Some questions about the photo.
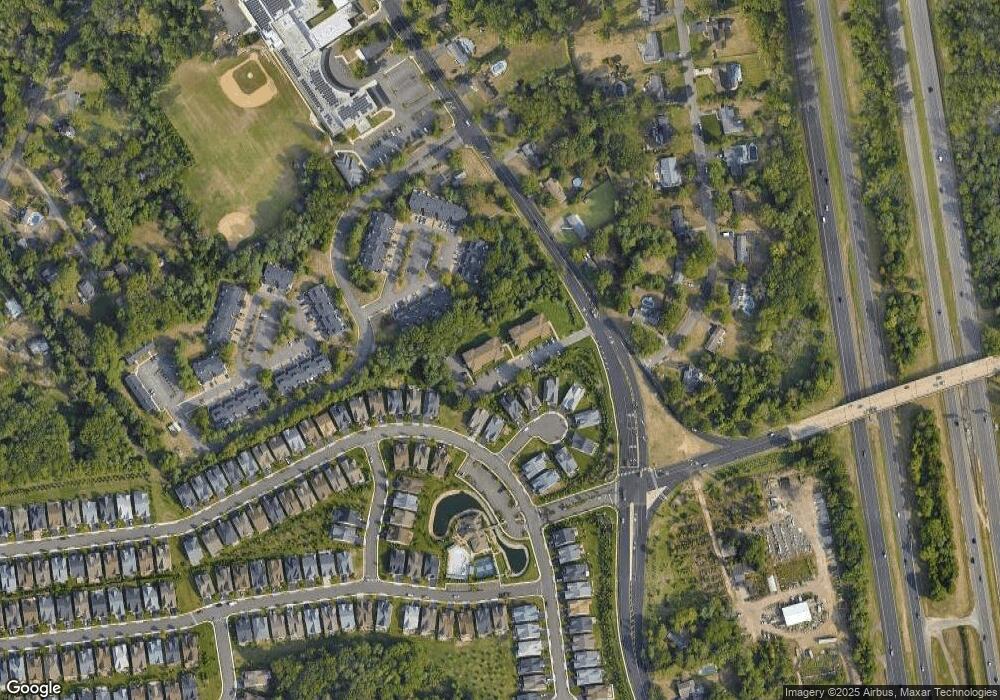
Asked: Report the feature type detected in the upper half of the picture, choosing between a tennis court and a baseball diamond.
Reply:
baseball diamond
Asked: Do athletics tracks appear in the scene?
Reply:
No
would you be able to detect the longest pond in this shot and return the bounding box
[434,492,528,574]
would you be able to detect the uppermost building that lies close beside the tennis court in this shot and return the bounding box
[454,509,493,556]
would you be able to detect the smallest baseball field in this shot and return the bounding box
[218,212,255,251]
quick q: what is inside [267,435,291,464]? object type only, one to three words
house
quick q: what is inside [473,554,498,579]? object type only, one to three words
tennis court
